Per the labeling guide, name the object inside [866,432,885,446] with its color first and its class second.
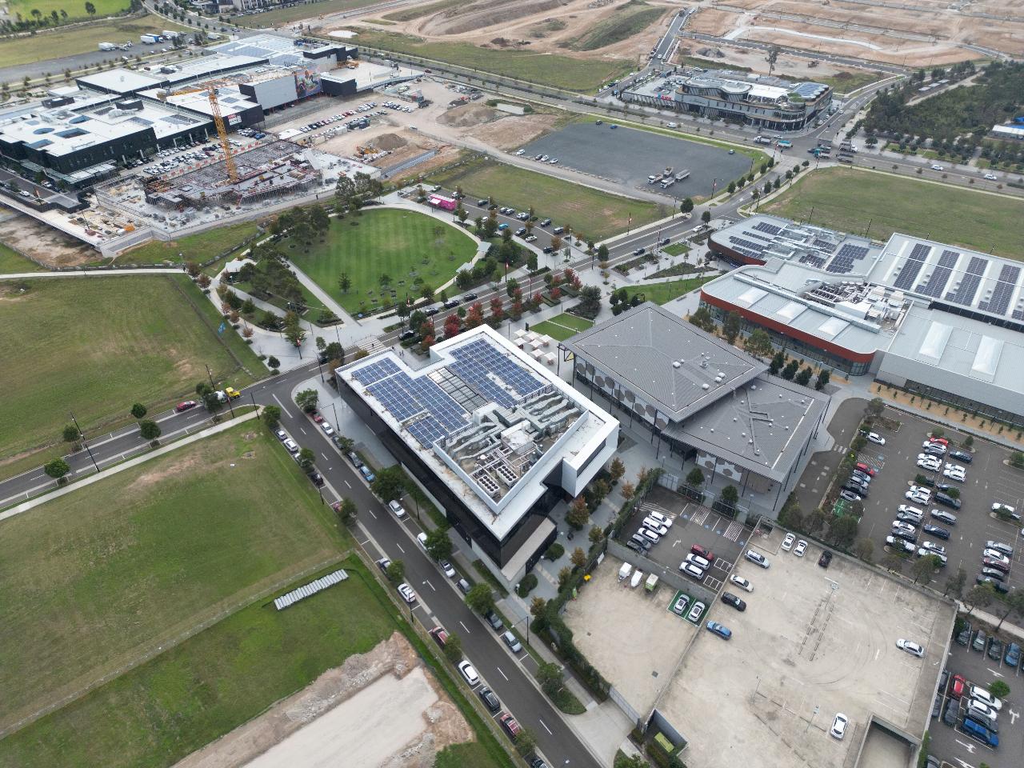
white car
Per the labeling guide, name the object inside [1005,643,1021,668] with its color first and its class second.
blue car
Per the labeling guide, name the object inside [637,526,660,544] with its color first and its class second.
white car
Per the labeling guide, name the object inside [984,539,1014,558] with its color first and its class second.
gray vehicle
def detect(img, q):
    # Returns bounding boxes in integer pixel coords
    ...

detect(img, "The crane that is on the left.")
[151,64,301,173]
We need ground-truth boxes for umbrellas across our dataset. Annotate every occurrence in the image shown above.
[512,338,529,349]
[542,352,559,364]
[530,348,546,361]
[525,332,541,341]
[527,340,544,349]
[513,329,529,338]
[538,335,554,346]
